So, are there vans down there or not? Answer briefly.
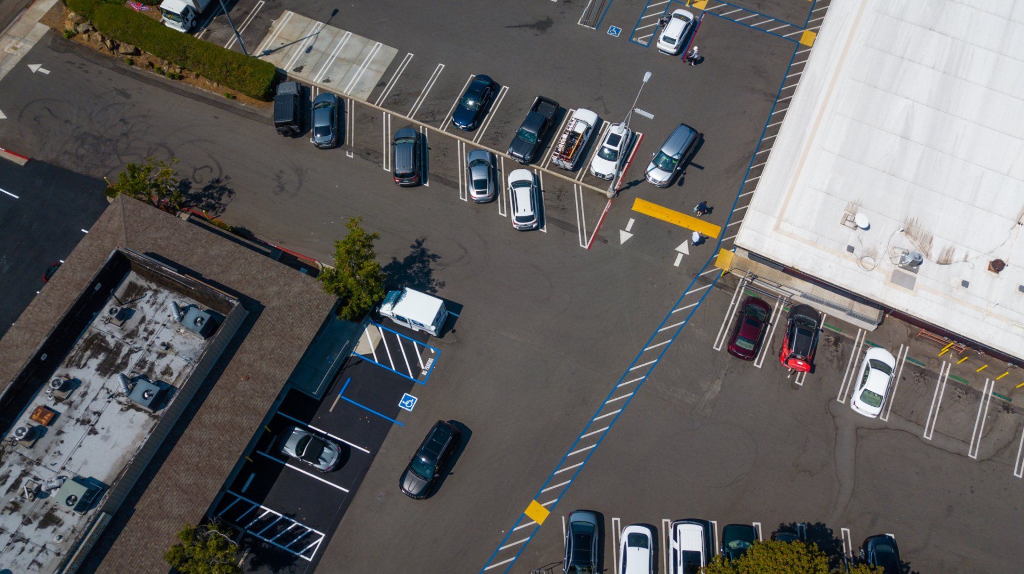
Yes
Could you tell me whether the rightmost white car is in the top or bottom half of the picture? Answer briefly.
bottom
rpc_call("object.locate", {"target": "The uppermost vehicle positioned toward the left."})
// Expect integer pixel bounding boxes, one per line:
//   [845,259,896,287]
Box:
[157,0,212,34]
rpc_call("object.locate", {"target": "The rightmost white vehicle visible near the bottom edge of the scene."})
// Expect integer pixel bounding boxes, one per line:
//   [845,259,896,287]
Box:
[668,521,709,574]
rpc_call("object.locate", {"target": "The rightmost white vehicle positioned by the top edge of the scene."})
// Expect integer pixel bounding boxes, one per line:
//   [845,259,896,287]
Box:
[654,10,693,57]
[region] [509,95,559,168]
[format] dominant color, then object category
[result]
black truck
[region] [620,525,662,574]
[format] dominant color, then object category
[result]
white car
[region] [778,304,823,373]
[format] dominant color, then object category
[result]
black car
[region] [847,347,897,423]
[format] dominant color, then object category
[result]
white car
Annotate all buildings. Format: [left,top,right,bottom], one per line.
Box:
[733,0,1024,369]
[0,193,338,574]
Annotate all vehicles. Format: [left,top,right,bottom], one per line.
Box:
[562,511,604,574]
[463,151,496,205]
[403,419,459,503]
[389,127,423,189]
[859,535,907,574]
[778,304,823,373]
[456,75,493,132]
[847,347,897,423]
[592,122,633,184]
[668,521,709,574]
[40,263,62,286]
[157,0,212,34]
[648,123,698,190]
[309,94,341,151]
[377,287,448,337]
[654,10,693,57]
[620,525,662,574]
[277,426,345,473]
[551,109,597,175]
[506,171,539,232]
[727,295,772,364]
[272,82,304,138]
[509,95,559,168]
[720,525,756,558]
